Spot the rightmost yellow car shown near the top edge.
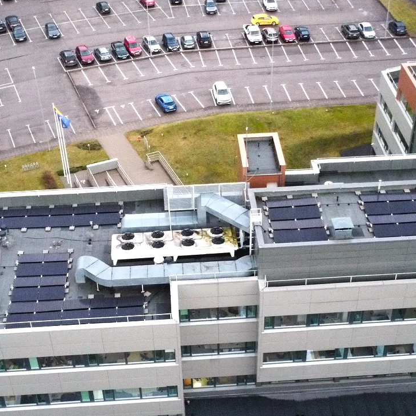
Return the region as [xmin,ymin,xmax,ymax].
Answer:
[250,14,280,27]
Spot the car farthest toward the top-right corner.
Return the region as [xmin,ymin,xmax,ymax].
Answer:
[388,22,408,38]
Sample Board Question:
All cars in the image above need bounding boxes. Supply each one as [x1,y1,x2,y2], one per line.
[212,81,231,105]
[122,34,143,57]
[294,28,311,43]
[250,14,280,27]
[60,51,78,68]
[161,31,182,53]
[388,22,408,38]
[171,0,182,6]
[262,0,278,12]
[262,29,280,45]
[204,0,219,16]
[196,32,213,49]
[94,48,113,65]
[44,23,63,41]
[3,16,20,31]
[96,3,112,17]
[154,94,178,116]
[11,26,28,44]
[279,26,296,44]
[75,44,95,66]
[181,33,196,53]
[0,19,7,35]
[340,24,361,42]
[141,36,163,56]
[110,42,131,62]
[356,23,377,41]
